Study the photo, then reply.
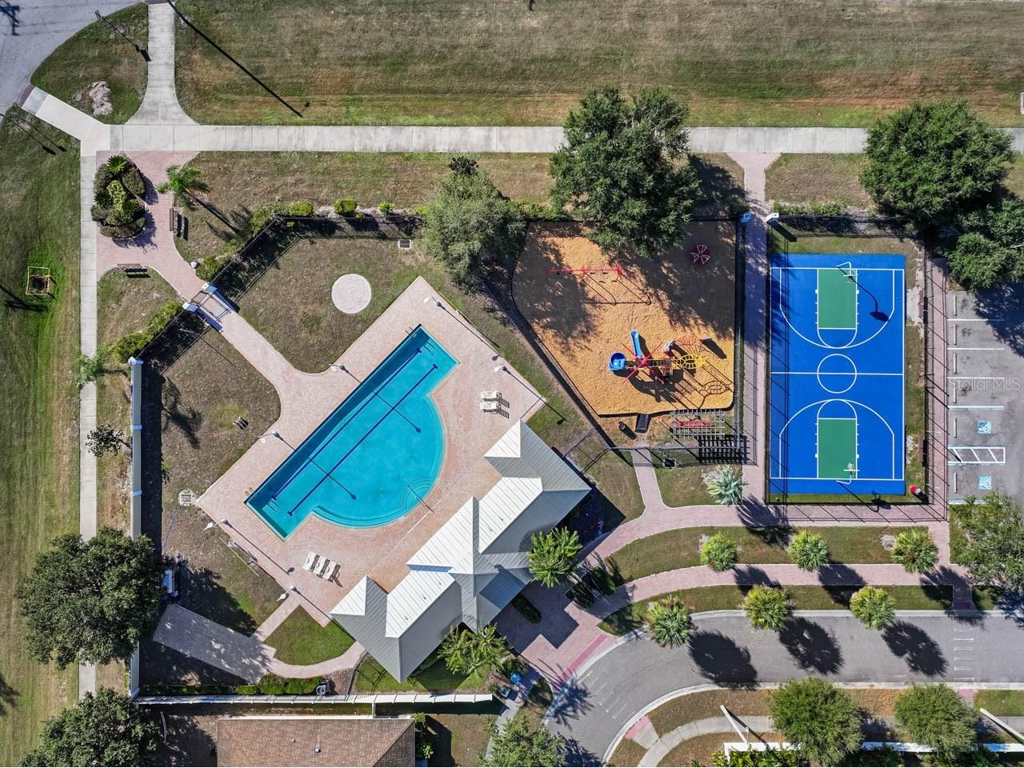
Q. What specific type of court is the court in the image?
basketball court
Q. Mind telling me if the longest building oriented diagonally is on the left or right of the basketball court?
to the left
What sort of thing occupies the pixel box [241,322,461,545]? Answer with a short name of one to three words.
swimming pool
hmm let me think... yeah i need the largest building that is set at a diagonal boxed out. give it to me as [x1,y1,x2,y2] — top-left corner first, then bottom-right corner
[330,419,592,682]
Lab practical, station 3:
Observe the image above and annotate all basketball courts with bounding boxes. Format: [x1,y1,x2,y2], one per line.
[769,254,905,494]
